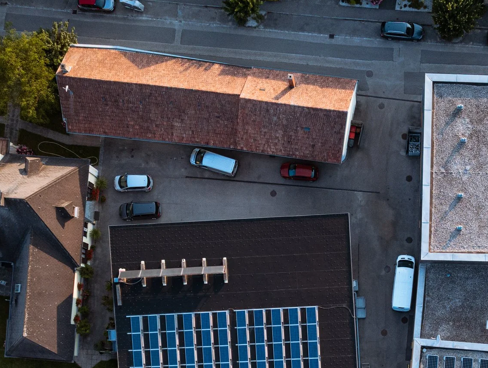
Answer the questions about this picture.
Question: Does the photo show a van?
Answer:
Yes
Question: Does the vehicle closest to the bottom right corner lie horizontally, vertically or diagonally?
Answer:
vertically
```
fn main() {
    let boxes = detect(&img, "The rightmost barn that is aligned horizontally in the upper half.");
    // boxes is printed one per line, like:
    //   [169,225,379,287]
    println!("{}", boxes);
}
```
[55,42,357,166]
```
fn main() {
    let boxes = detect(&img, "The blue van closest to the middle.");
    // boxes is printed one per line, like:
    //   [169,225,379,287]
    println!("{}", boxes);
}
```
[189,148,240,177]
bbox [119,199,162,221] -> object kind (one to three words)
car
